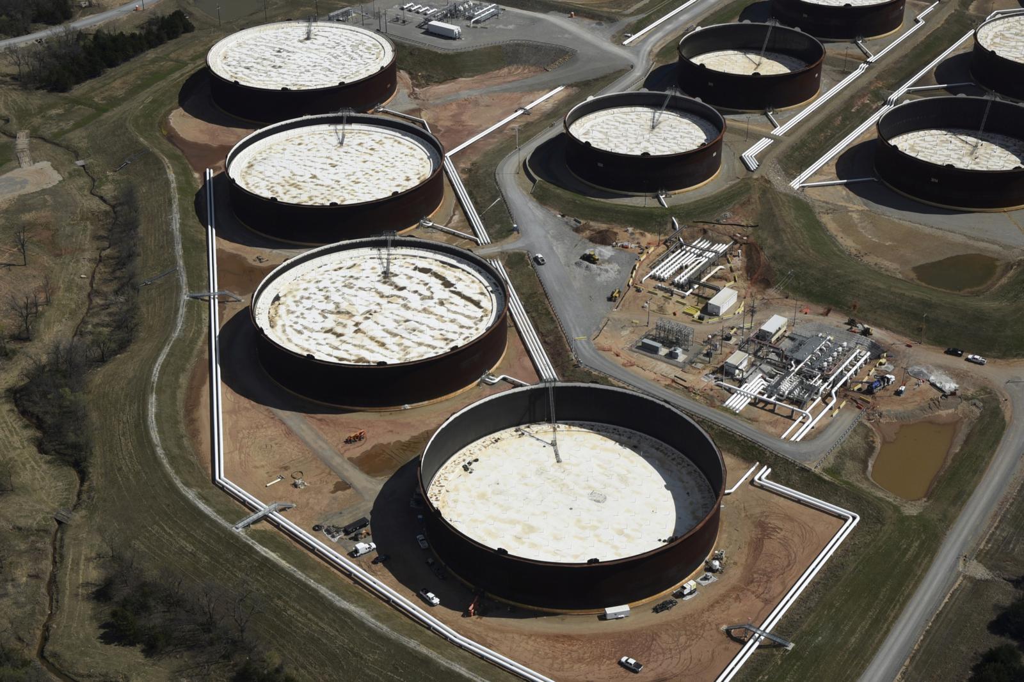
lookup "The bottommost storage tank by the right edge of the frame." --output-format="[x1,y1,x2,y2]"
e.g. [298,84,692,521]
[872,88,1024,211]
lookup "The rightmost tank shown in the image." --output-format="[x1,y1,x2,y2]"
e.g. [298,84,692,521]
[967,9,1024,98]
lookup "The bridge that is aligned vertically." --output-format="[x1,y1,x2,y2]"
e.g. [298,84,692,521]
[15,129,35,168]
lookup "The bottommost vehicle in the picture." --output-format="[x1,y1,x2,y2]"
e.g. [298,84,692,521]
[619,654,644,671]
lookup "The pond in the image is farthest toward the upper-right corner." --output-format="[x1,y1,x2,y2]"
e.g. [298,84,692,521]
[912,255,999,291]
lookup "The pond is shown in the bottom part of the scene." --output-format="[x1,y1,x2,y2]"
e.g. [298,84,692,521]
[870,418,964,501]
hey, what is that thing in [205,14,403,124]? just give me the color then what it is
white storage tank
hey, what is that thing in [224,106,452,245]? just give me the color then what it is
white storage tank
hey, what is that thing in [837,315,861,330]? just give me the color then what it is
black work vehicle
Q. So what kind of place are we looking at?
industrial area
